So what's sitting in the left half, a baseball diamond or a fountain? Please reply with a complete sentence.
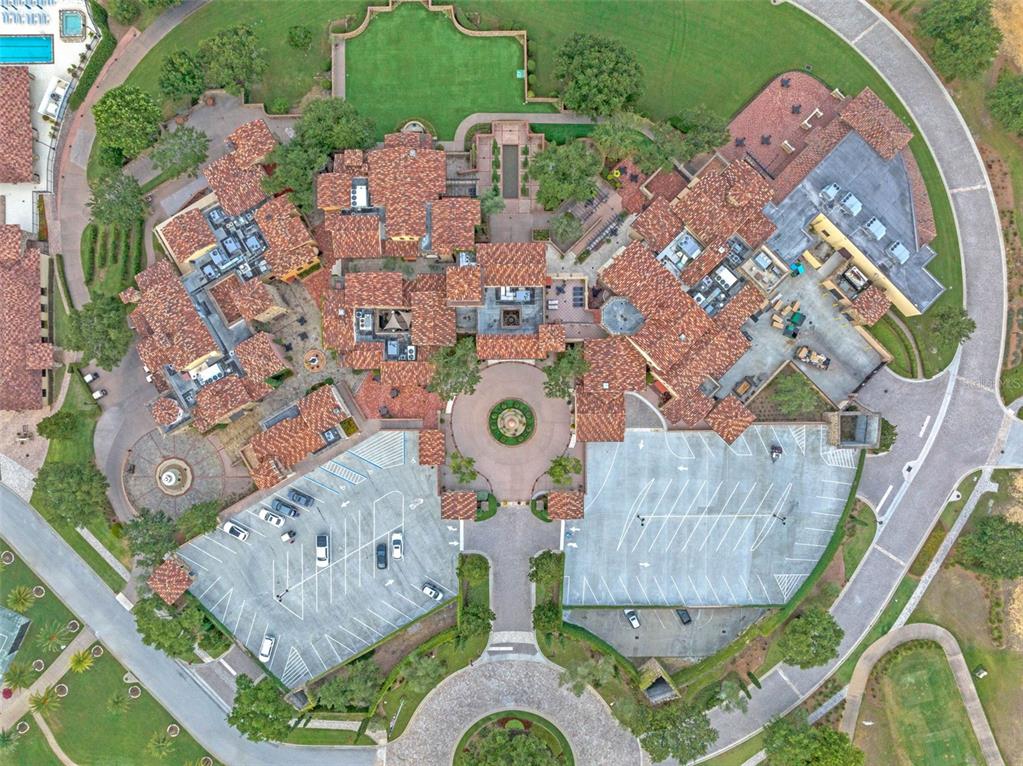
You can see a fountain in the left half.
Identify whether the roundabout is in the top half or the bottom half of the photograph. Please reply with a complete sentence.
The roundabout is in the bottom half of the image.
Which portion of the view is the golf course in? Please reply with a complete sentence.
The golf course is in the bottom right part of the image.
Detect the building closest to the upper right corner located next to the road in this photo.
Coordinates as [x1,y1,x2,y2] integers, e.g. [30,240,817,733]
[754,87,947,327]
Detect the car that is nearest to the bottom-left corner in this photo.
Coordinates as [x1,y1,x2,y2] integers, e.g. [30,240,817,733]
[258,635,275,663]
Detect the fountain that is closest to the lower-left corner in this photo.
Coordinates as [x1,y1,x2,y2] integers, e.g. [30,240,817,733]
[154,458,193,496]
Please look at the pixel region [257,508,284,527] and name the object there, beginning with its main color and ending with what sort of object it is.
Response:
white car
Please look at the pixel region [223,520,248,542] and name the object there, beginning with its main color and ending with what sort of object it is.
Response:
white car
